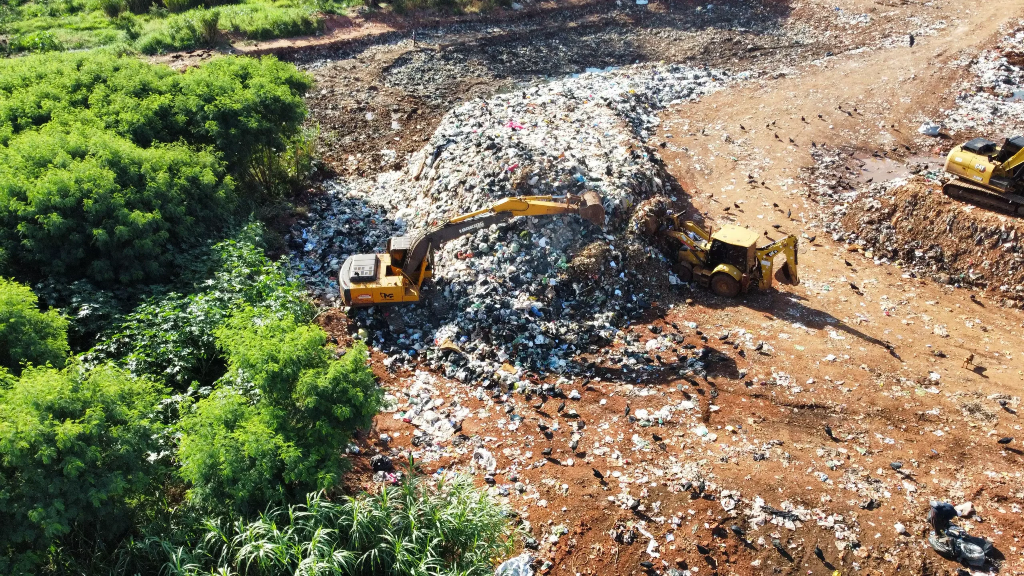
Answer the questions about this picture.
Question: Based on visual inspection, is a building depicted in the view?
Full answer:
No, this view has no building in it.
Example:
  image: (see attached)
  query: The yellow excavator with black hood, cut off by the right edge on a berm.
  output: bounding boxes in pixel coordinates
[944,141,1024,218]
